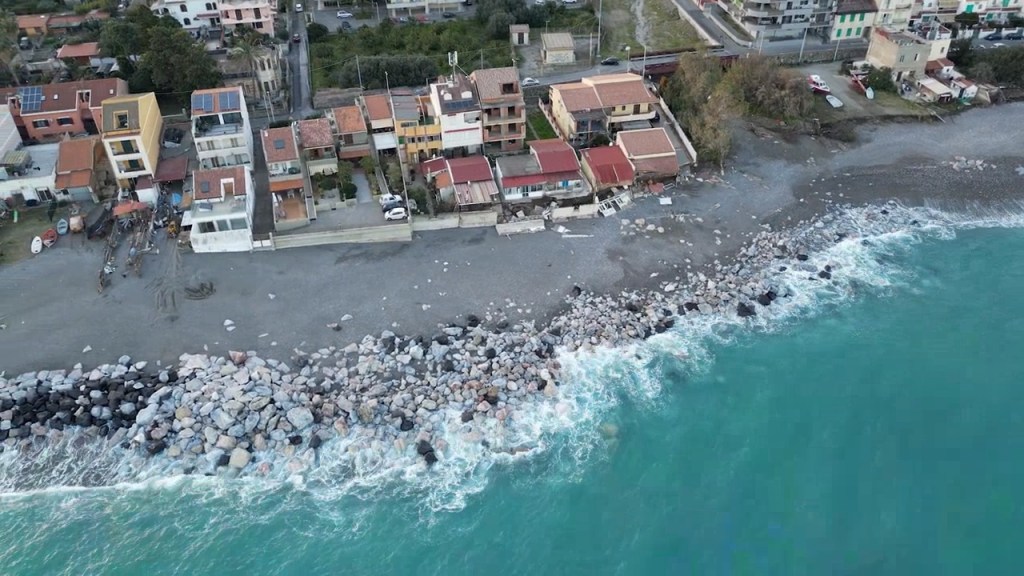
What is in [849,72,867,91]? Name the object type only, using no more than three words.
boat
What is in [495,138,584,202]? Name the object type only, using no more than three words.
house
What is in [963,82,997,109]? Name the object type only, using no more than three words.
shed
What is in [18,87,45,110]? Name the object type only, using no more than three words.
solar panel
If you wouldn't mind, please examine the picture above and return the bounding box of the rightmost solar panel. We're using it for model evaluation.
[447,97,475,109]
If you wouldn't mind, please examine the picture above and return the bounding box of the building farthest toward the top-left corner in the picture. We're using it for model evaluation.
[17,12,53,41]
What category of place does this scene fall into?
residential area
